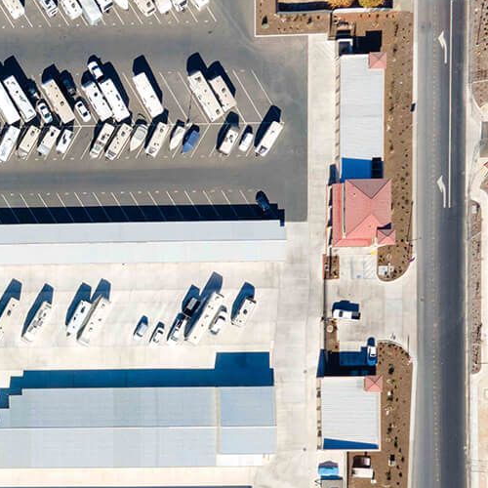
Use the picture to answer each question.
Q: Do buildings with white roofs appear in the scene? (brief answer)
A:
Yes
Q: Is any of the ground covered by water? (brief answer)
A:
No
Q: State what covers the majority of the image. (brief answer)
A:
paved ground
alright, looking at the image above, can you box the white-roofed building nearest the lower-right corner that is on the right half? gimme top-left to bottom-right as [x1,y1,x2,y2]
[314,376,383,450]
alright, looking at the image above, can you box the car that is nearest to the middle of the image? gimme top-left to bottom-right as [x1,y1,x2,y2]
[254,193,271,212]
